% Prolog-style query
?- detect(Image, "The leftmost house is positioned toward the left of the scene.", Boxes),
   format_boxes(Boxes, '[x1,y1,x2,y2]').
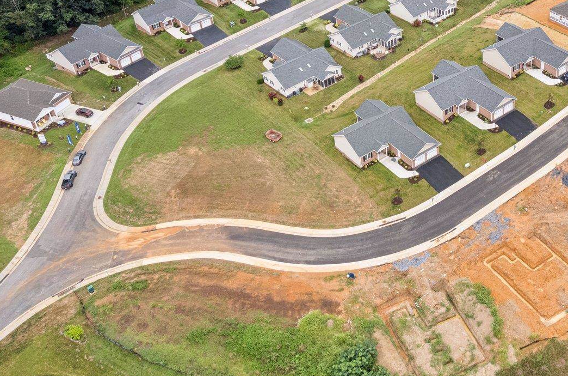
[0,76,70,133]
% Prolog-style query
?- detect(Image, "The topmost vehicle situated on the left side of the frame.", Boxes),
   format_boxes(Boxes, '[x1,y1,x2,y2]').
[73,104,95,117]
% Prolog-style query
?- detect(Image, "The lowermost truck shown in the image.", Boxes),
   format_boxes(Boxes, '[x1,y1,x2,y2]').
[57,167,79,189]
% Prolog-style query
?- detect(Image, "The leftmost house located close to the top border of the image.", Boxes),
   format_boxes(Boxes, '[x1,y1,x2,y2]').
[50,19,147,74]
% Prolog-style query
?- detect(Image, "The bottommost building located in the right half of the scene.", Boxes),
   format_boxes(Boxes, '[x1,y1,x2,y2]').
[334,99,442,168]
